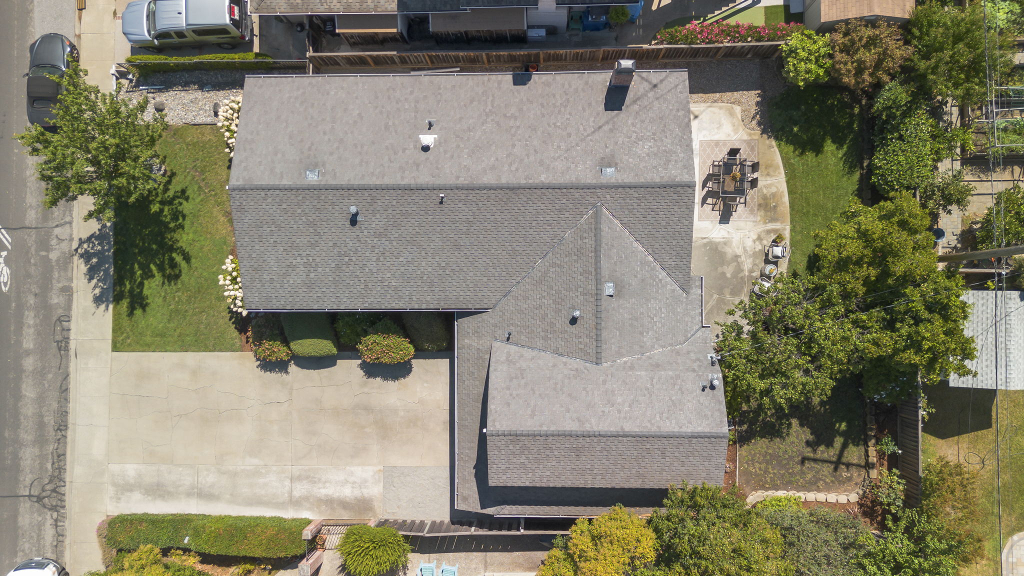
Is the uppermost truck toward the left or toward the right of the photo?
left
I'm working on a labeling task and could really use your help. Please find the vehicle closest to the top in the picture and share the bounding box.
[120,0,257,54]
